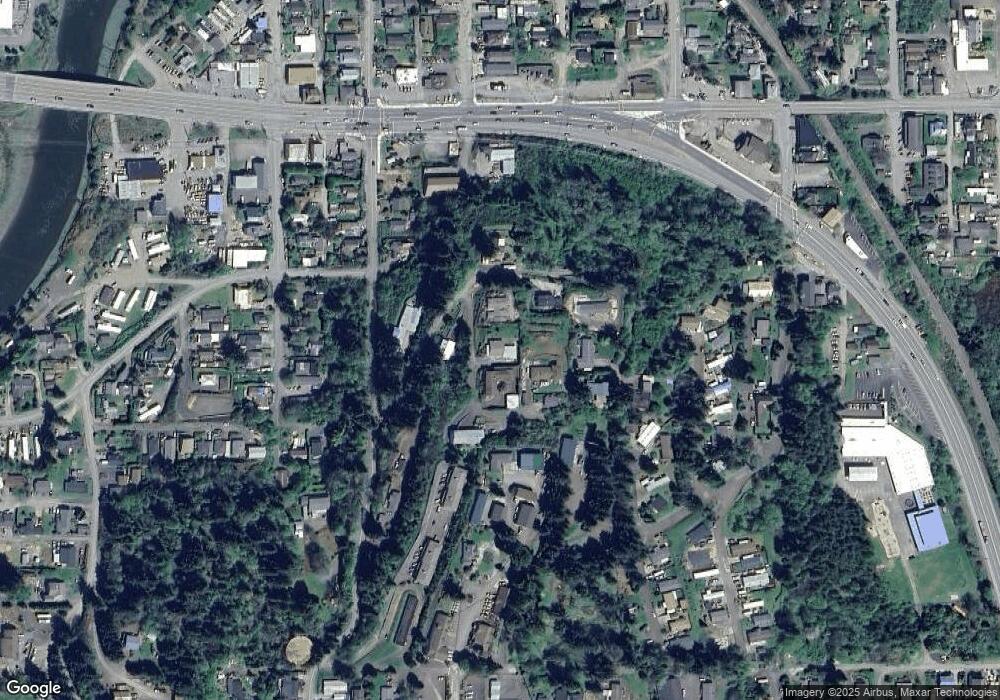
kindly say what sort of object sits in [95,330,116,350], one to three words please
house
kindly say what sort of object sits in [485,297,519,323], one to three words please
house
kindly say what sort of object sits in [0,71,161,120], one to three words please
bridge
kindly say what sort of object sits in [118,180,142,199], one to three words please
building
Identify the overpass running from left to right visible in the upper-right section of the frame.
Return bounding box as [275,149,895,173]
[790,100,838,113]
